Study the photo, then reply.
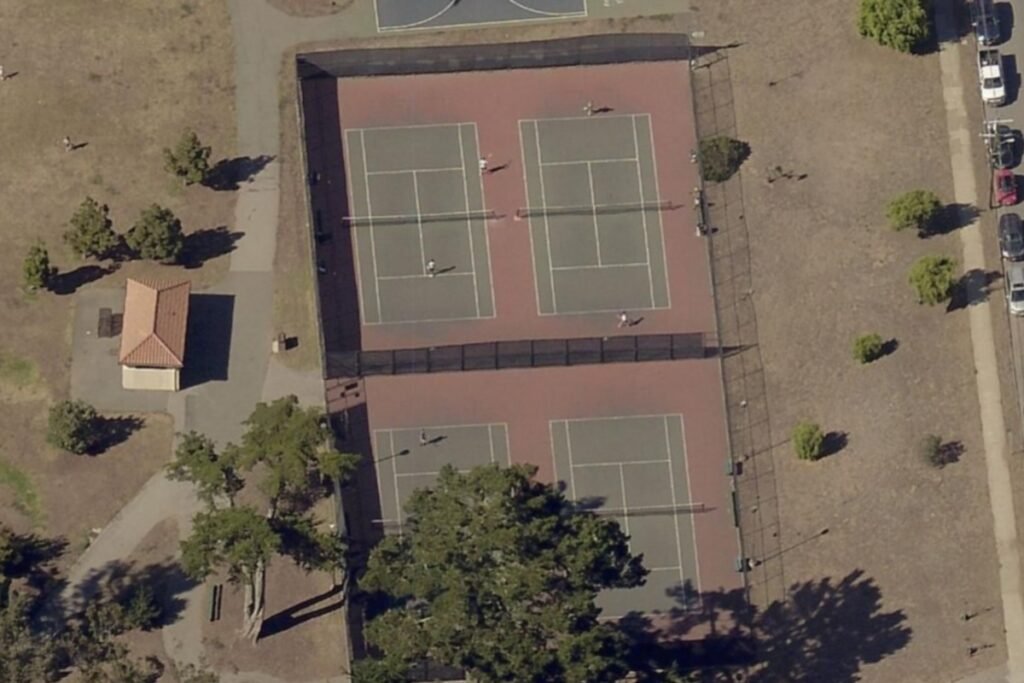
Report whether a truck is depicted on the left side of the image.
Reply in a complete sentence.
No, looking on the left side of the image, there is no truck.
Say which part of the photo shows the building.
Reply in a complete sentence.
You can find the building in the left area of the picture.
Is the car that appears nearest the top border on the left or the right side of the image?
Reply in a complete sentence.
The car that appears nearest the top border sits on the right side.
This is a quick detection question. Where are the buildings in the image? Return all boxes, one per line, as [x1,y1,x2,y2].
[119,278,191,389]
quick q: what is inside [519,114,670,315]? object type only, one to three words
tennis court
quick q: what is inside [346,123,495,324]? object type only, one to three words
tennis court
